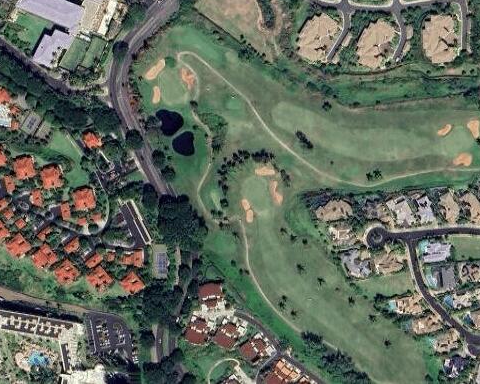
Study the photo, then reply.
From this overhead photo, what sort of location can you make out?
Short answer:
golf course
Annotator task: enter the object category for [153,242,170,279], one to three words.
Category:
tennis court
